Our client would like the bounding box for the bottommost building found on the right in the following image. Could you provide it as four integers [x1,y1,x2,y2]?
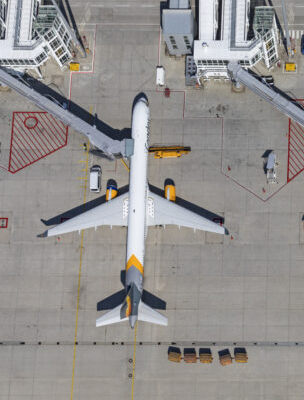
[194,35,269,95]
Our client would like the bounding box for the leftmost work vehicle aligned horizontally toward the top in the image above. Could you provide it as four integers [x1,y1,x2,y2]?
[149,146,191,162]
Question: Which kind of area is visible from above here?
airport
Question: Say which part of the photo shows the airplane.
center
